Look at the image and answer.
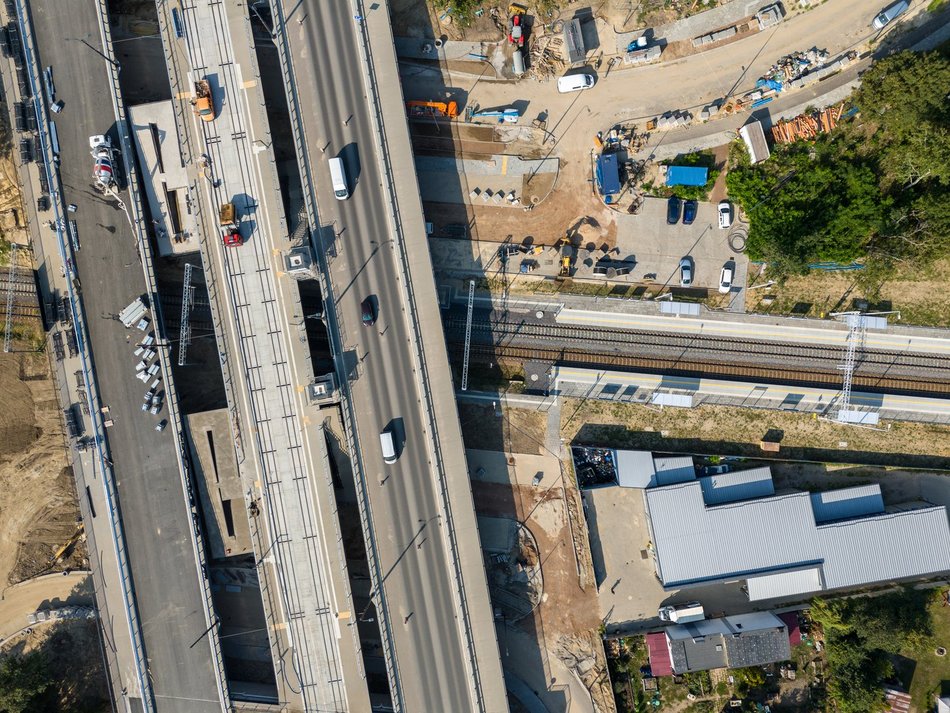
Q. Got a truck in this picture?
Yes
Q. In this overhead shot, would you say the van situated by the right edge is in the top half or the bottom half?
top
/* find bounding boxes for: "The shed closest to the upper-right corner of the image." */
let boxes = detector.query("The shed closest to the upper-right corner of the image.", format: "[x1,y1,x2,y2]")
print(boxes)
[738,121,770,166]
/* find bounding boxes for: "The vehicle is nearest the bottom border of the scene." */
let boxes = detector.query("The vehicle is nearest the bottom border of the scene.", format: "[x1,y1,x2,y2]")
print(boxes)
[654,595,704,622]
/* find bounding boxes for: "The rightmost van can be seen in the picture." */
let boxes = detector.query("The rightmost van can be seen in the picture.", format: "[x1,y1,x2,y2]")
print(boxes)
[867,0,910,34]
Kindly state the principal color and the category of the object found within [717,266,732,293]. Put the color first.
white car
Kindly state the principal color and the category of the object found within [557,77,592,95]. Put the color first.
white vehicle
